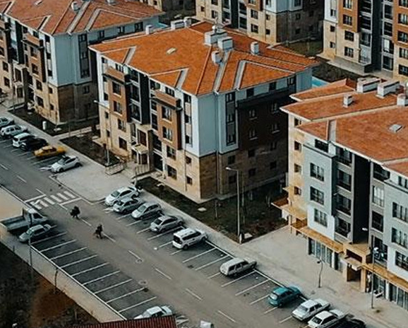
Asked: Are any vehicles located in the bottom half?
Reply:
Yes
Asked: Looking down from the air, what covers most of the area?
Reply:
buildings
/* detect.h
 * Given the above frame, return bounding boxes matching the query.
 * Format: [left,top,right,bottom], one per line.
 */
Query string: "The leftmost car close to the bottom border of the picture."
[133,299,175,319]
